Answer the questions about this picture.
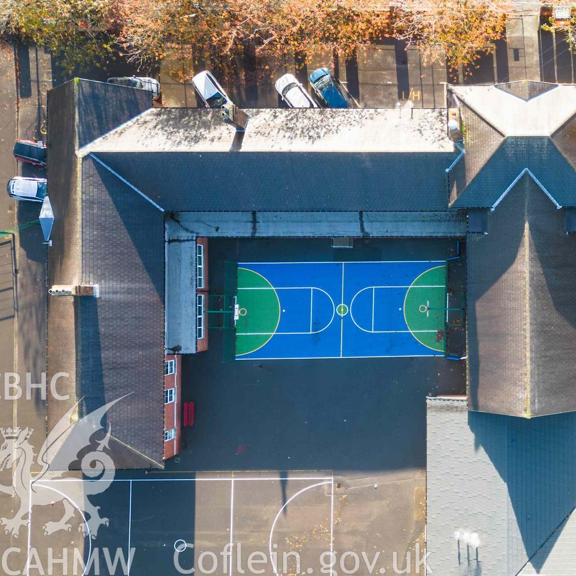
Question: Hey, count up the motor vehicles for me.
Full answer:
Looking from above, you can make out 6 motor vehicles.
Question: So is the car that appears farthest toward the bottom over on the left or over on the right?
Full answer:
The car that appears farthest toward the bottom appears in the left half of the scene.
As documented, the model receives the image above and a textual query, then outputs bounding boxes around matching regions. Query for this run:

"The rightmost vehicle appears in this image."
[310,65,356,107]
